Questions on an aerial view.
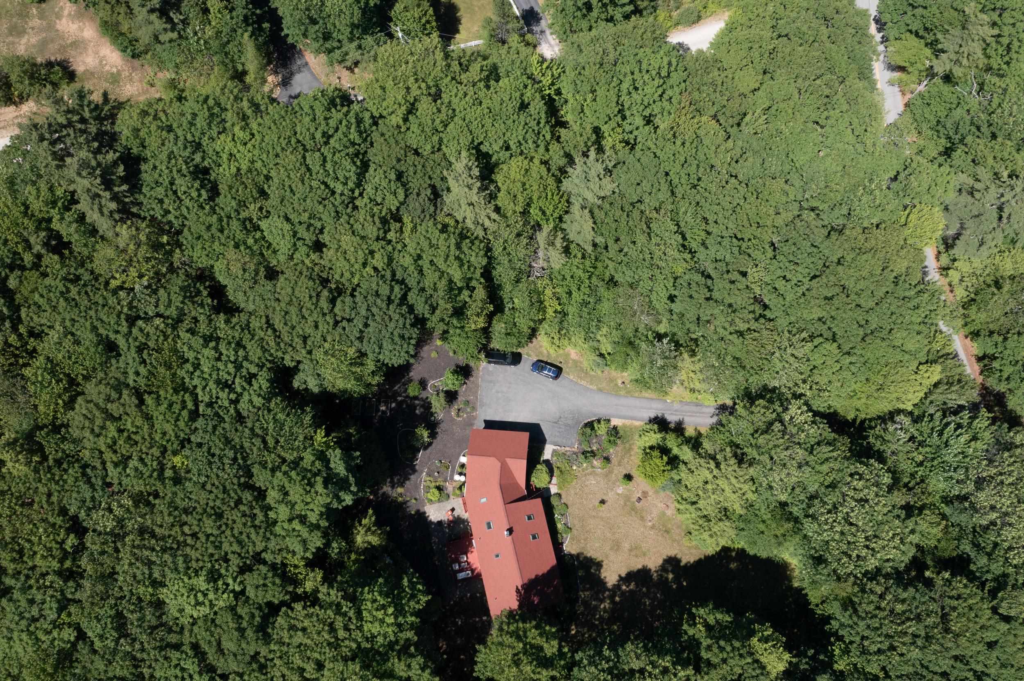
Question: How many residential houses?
one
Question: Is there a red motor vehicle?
No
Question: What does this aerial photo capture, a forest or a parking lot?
forest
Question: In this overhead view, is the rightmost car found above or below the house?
above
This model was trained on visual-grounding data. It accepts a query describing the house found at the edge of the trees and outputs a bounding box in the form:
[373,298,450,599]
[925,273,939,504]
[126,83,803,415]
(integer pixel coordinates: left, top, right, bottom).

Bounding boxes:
[463,429,571,626]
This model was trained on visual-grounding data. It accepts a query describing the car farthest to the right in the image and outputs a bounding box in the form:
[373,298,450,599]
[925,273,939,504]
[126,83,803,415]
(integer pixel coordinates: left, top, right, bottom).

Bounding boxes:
[529,362,562,383]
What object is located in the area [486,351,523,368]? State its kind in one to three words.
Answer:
car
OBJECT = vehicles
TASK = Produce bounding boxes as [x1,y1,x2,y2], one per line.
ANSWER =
[529,362,562,383]
[486,351,523,368]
